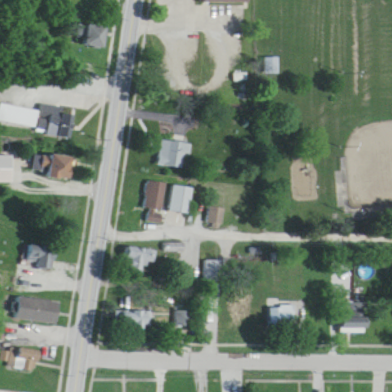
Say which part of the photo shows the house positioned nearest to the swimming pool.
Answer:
bottom right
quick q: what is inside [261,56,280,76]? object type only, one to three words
shed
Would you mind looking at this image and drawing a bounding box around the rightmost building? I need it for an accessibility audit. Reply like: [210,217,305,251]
[337,302,372,334]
